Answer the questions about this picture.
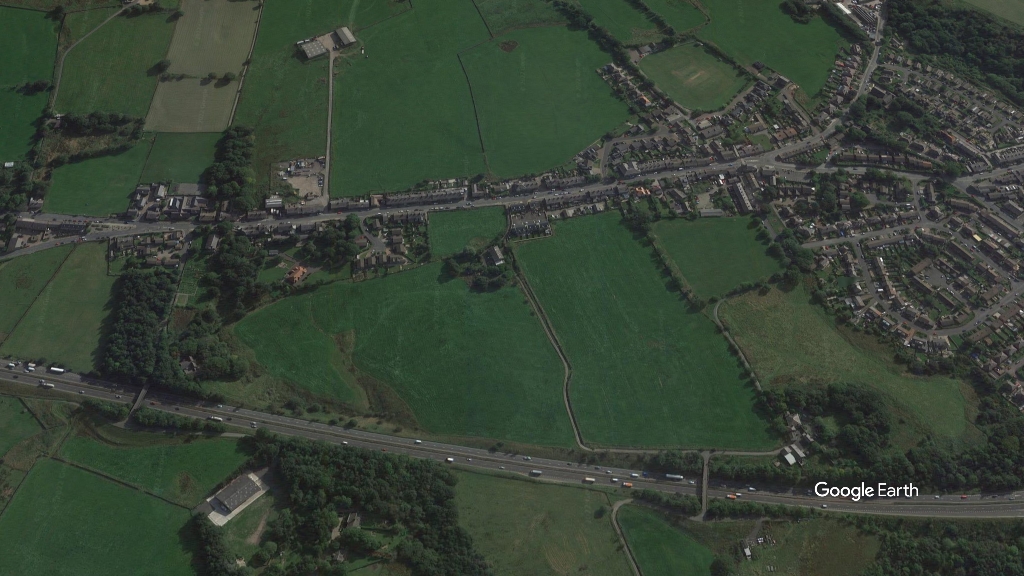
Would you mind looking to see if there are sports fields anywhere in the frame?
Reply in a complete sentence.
Yes, the frame does contain a sports field.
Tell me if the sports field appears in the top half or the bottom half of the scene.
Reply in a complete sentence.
The sports field sits in the top half of the picture.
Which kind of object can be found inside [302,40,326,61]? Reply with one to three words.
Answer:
barn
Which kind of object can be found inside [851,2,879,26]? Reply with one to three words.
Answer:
building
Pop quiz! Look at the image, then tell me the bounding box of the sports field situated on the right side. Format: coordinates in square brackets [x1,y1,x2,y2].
[641,41,748,112]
